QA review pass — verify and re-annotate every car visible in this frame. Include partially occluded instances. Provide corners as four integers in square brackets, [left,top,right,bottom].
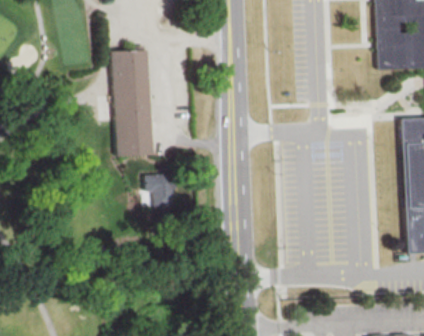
[179,114,190,120]
[224,118,229,129]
